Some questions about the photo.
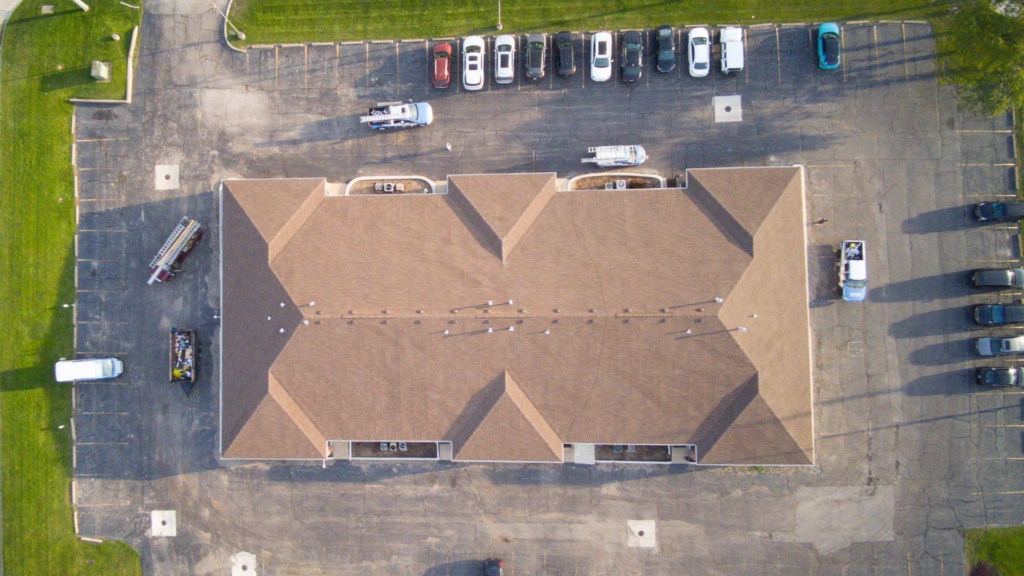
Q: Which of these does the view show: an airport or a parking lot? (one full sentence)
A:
What you see here is a parking lot.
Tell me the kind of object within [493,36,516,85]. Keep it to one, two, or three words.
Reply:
car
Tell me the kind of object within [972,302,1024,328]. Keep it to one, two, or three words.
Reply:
car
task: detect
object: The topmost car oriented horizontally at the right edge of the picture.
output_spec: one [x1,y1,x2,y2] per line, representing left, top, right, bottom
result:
[971,199,1024,224]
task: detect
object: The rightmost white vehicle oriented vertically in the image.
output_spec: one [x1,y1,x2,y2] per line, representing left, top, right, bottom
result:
[840,239,871,302]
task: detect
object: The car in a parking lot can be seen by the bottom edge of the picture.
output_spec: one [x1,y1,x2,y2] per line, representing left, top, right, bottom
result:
[484,555,504,576]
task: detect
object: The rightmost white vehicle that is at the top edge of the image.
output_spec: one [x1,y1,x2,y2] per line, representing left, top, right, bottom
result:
[686,28,712,79]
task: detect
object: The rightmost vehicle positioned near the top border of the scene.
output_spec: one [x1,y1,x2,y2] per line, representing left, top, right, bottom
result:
[814,24,842,72]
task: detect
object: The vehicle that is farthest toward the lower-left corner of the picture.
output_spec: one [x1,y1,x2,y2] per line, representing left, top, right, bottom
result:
[54,357,124,382]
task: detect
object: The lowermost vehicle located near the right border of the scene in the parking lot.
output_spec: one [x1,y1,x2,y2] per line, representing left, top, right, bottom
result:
[974,365,1024,389]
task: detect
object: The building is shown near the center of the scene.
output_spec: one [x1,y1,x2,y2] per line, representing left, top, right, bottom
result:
[219,164,817,466]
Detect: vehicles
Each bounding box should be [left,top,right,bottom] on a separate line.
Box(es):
[814,24,842,72]
[484,555,504,576]
[430,44,452,90]
[369,96,433,131]
[974,365,1024,389]
[524,34,548,83]
[461,38,485,92]
[970,265,1024,290]
[554,32,578,79]
[156,223,209,283]
[54,357,124,382]
[620,32,645,84]
[686,28,712,79]
[972,302,1024,328]
[594,143,647,171]
[971,199,1024,224]
[974,334,1024,359]
[589,31,614,84]
[493,36,516,85]
[654,25,678,75]
[840,239,871,302]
